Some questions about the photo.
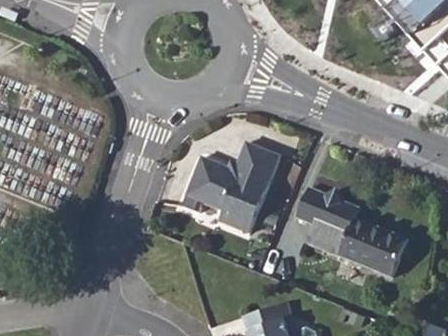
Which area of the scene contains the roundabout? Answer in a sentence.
The roundabout sits in the top section of the image.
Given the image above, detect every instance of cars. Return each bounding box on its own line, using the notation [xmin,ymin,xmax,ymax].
[168,108,187,126]
[264,250,280,272]
[282,256,294,277]
[398,139,420,154]
[386,104,409,119]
